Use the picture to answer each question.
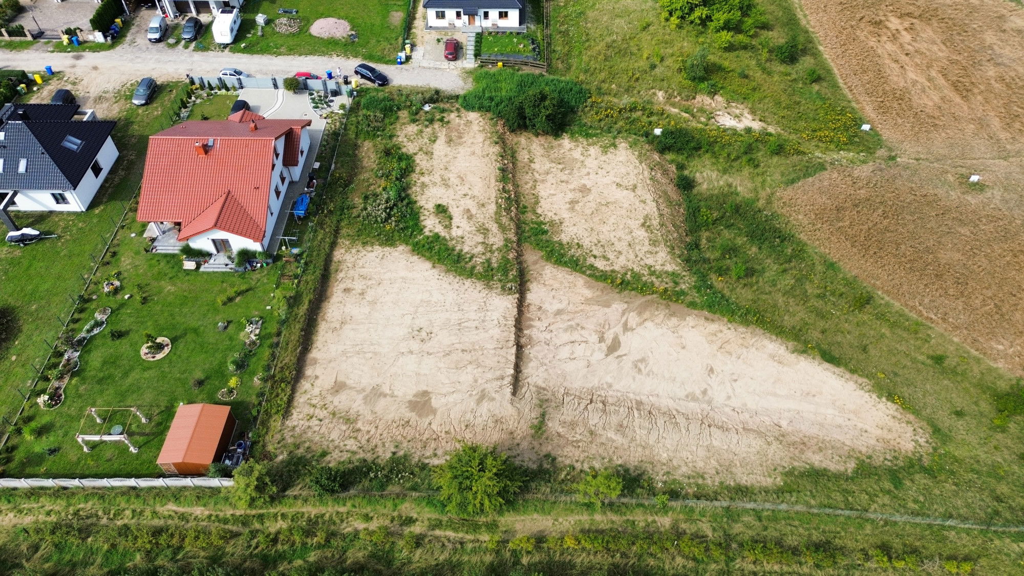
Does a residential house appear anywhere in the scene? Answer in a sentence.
Yes, the photo shows a residential house.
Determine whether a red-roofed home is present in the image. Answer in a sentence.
Yes, there's a red-roofed home down there.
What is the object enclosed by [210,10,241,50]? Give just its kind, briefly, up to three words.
camper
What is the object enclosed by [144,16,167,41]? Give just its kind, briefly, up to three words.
vehicle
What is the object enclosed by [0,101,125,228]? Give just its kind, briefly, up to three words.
house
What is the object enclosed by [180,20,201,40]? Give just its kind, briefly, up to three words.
car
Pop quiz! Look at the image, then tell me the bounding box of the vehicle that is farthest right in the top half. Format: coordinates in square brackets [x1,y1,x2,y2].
[443,39,459,59]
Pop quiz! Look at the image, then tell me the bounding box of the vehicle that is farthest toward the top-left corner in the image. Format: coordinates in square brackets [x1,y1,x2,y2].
[49,88,76,103]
